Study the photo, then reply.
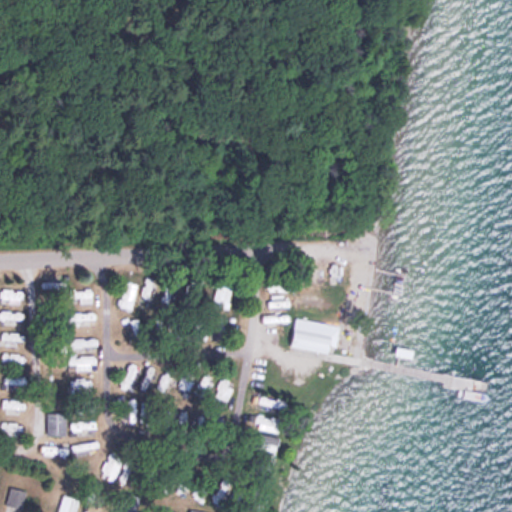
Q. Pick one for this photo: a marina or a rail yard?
marina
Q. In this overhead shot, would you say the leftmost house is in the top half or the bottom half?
bottom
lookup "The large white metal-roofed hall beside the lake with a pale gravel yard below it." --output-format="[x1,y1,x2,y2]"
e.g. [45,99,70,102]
[292,319,340,355]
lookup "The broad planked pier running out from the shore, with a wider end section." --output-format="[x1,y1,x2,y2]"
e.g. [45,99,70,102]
[361,358,488,392]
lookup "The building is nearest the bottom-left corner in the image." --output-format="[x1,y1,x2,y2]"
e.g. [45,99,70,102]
[6,486,28,507]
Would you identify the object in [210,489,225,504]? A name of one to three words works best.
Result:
vehicle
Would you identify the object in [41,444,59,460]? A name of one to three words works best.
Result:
vehicle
